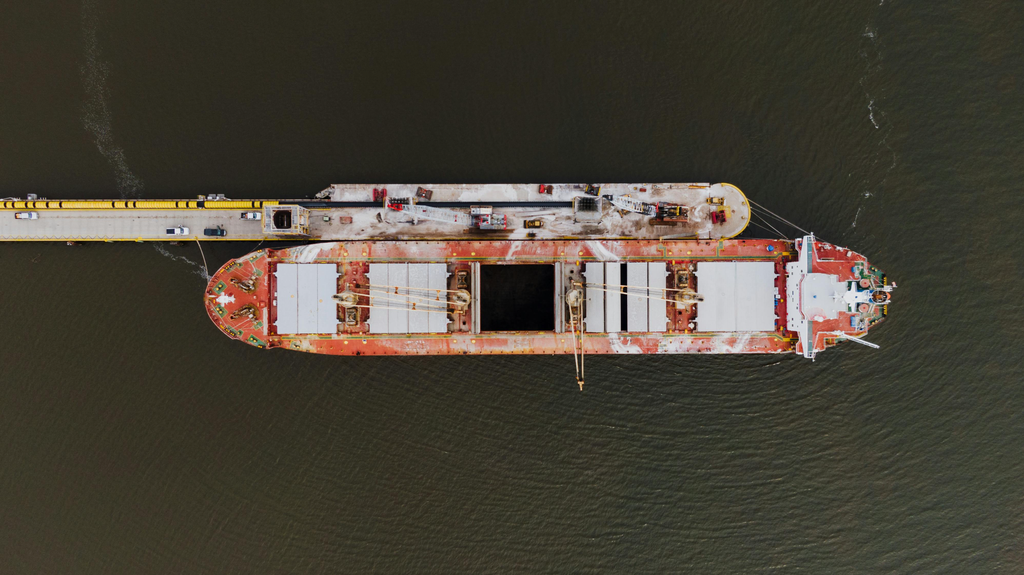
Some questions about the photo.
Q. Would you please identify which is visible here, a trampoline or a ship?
ship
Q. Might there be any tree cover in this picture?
No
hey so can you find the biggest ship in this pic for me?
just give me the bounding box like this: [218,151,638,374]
[205,232,893,390]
